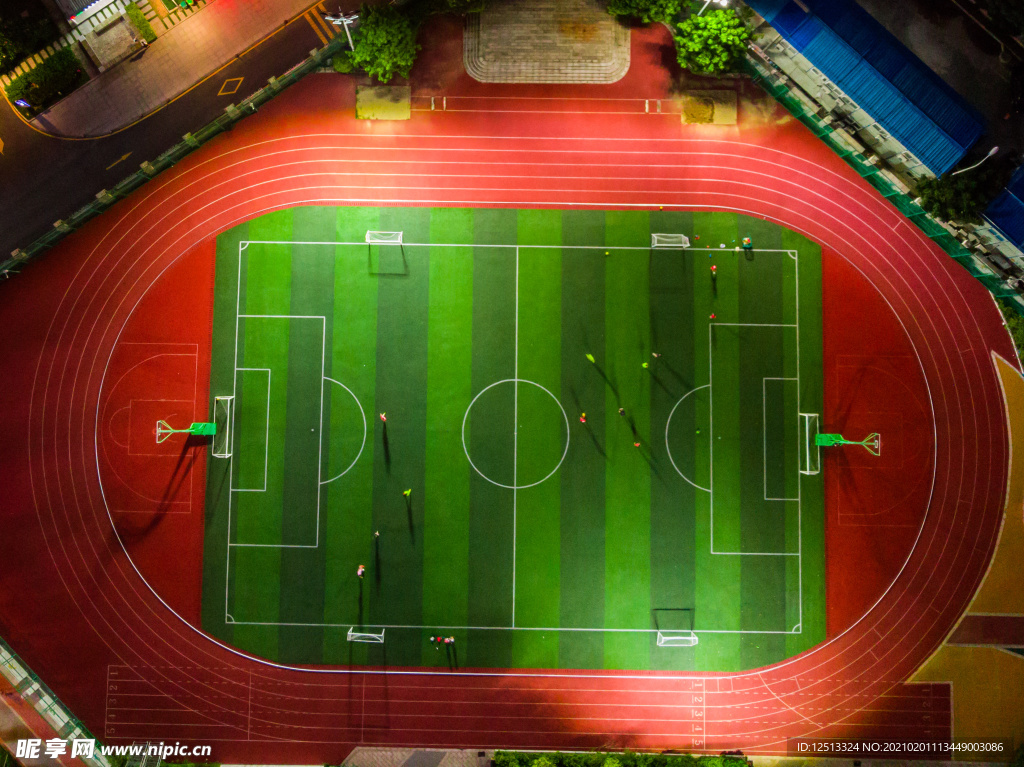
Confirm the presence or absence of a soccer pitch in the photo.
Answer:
Yes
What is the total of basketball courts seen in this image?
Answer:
2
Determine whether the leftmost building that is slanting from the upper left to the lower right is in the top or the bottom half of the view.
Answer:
top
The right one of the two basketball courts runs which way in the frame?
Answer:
from top to bottom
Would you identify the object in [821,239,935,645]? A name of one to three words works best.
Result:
basketball court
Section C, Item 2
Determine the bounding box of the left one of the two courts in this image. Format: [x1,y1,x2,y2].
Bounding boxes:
[97,232,217,633]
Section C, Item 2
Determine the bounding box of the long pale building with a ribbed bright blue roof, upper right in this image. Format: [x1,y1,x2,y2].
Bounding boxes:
[715,0,989,186]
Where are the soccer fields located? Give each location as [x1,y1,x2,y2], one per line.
[201,208,826,669]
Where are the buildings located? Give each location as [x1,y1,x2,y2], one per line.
[958,180,1024,283]
[58,0,119,25]
[715,0,989,186]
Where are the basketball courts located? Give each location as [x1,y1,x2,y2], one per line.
[821,239,935,645]
[97,232,217,633]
